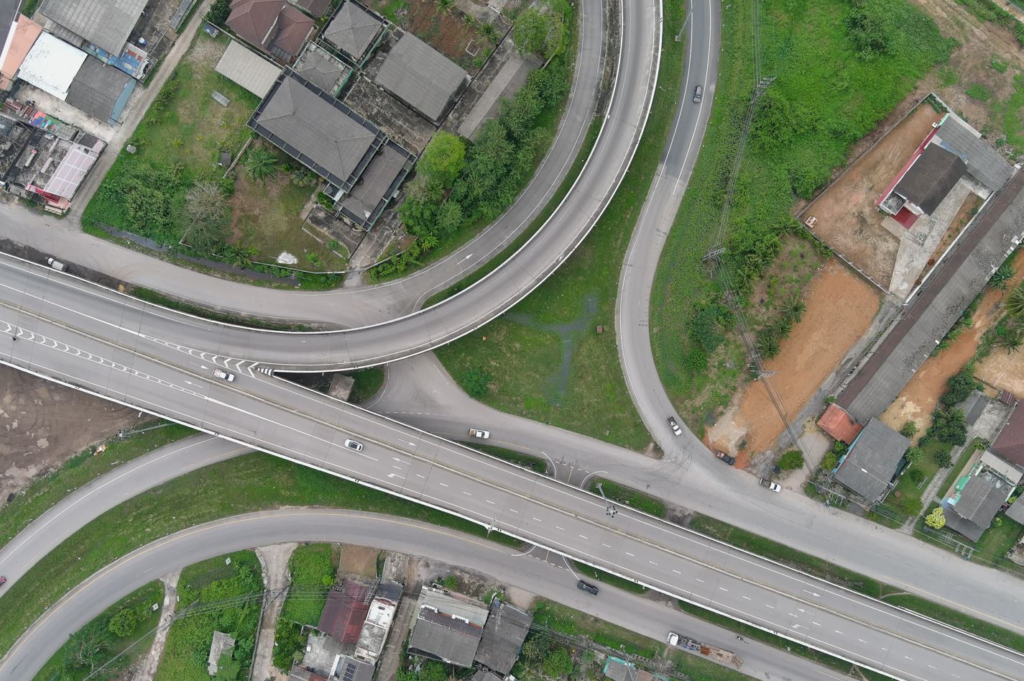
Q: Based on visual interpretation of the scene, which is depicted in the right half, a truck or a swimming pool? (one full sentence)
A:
You can see a truck in the right half.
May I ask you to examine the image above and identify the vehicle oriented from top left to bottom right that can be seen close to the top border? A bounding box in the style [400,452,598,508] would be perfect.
[199,20,221,38]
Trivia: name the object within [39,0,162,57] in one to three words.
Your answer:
building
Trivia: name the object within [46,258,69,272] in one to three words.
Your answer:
vehicle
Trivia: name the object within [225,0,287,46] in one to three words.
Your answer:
house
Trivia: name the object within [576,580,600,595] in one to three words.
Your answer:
vehicle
